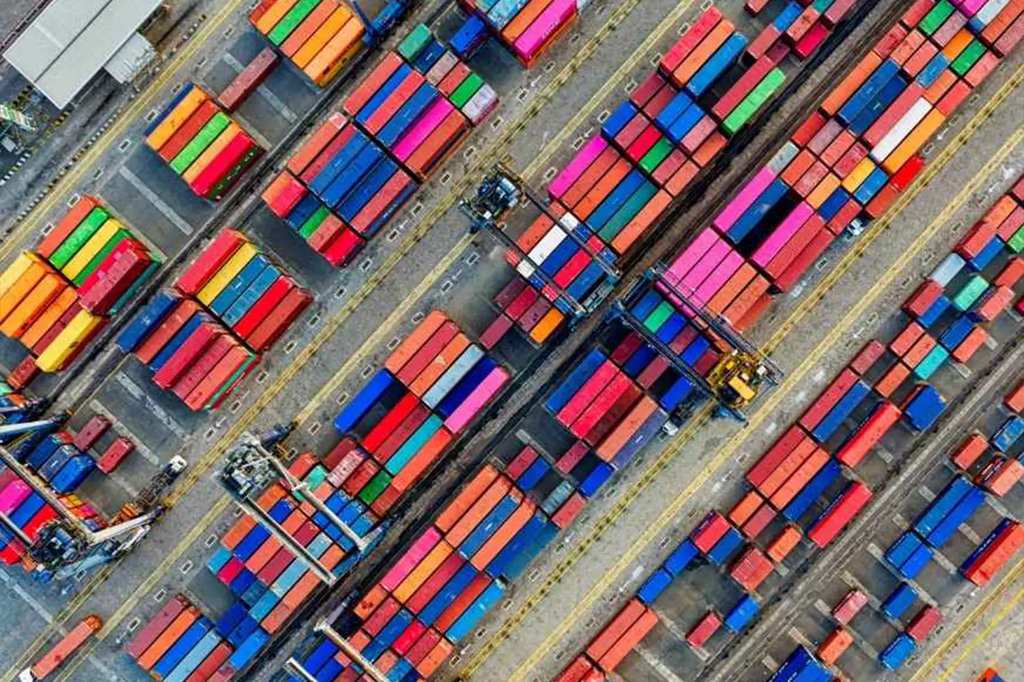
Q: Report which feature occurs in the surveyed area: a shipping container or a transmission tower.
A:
shipping container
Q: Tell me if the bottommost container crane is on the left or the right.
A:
left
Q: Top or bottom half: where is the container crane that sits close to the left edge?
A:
bottom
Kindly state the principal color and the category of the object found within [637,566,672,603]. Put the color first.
blue shipping container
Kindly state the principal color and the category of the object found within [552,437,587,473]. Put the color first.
red shipping container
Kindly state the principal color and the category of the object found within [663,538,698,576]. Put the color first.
blue shipping container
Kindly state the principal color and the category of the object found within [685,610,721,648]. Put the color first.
red shipping container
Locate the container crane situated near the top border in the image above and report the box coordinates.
[349,0,418,57]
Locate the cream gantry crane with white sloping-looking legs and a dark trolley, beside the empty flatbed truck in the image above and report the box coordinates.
[0,411,172,582]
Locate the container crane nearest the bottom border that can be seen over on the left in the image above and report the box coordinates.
[287,575,399,682]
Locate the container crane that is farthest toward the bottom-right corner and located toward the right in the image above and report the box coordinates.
[599,259,786,424]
